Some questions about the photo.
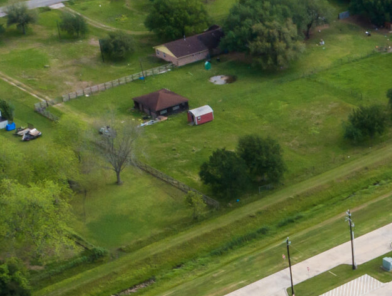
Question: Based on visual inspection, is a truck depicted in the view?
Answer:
No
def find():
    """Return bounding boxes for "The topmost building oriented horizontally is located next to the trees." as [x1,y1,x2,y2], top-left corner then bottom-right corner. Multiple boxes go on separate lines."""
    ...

[154,32,235,69]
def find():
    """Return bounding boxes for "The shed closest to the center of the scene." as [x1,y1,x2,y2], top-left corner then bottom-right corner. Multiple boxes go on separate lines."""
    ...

[183,103,214,126]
